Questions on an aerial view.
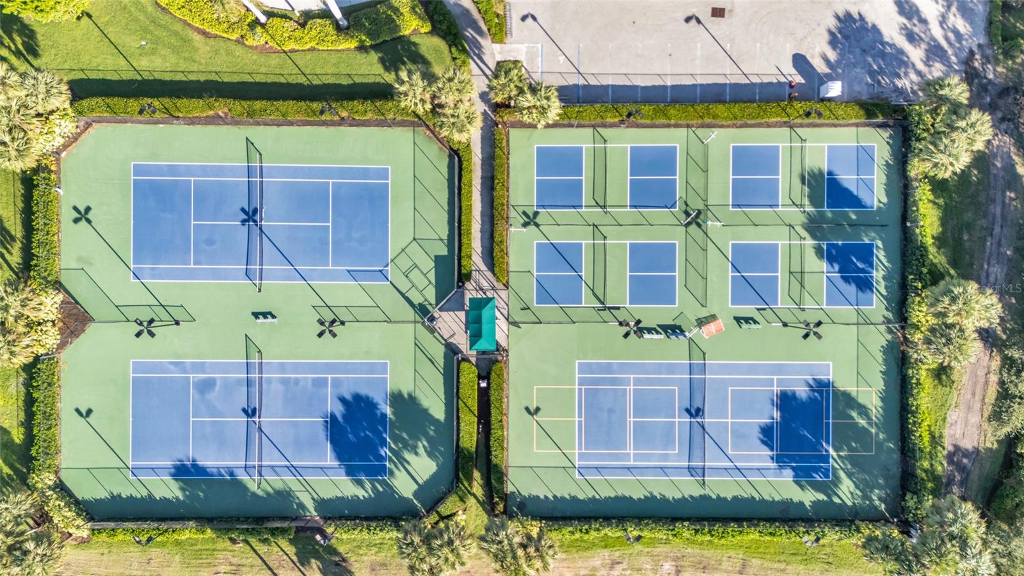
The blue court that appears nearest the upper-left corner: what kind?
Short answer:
tennis court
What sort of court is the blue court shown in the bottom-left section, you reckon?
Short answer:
tennis court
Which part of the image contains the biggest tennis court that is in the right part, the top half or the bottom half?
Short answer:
bottom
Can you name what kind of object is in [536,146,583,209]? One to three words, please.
sports court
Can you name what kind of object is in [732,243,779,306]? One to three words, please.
sports court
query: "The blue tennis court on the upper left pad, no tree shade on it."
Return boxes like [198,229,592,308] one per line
[131,163,391,283]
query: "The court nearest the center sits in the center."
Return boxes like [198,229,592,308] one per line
[536,243,583,305]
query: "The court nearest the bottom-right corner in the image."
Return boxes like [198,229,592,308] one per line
[730,388,874,454]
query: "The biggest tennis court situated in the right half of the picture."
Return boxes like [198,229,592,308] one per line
[577,361,832,479]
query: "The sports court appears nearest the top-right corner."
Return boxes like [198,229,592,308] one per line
[827,146,875,208]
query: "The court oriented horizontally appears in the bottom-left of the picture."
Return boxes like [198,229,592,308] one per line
[131,360,388,478]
